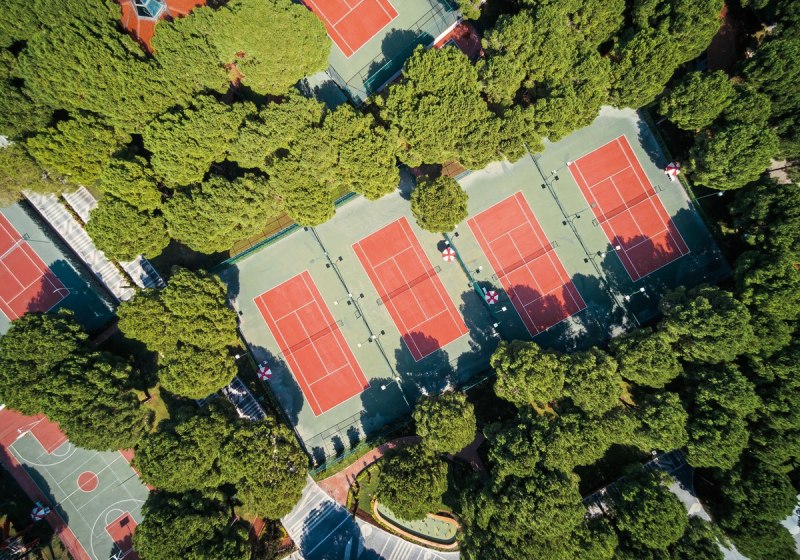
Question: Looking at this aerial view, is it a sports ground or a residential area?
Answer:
sports ground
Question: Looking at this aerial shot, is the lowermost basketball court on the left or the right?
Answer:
left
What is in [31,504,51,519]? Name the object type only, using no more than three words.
umbrella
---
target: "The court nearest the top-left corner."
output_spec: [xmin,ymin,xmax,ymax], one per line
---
[0,171,123,356]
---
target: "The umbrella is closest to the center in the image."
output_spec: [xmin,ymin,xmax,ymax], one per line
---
[441,248,455,262]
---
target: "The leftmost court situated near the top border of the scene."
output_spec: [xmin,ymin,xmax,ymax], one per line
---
[273,0,455,105]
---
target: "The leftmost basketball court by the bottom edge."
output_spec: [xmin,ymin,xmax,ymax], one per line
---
[0,376,189,560]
